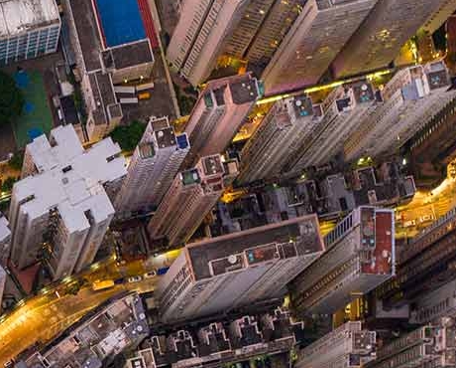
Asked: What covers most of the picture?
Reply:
buildings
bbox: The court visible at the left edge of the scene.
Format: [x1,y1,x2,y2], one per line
[16,69,52,147]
